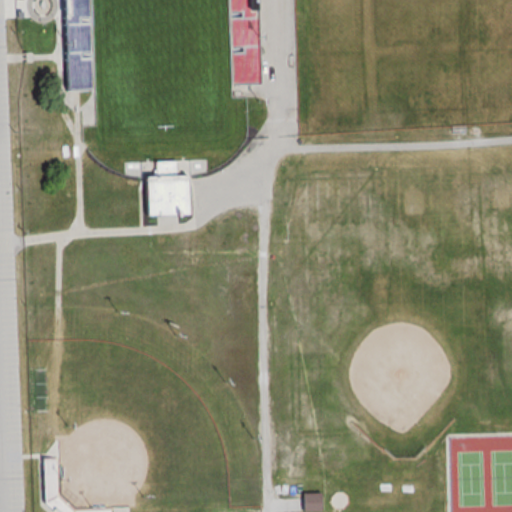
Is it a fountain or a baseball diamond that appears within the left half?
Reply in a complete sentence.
It is a baseball diamond that can be seen within the left half.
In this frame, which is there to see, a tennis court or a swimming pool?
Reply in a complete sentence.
There is a tennis court in the scene.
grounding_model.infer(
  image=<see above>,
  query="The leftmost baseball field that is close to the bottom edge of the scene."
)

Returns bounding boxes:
[28,339,263,508]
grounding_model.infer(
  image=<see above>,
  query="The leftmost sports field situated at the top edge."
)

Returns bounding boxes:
[86,0,246,172]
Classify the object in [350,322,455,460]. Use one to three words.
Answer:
baseball field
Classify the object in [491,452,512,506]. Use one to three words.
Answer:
tennis court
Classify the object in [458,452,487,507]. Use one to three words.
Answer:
tennis court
